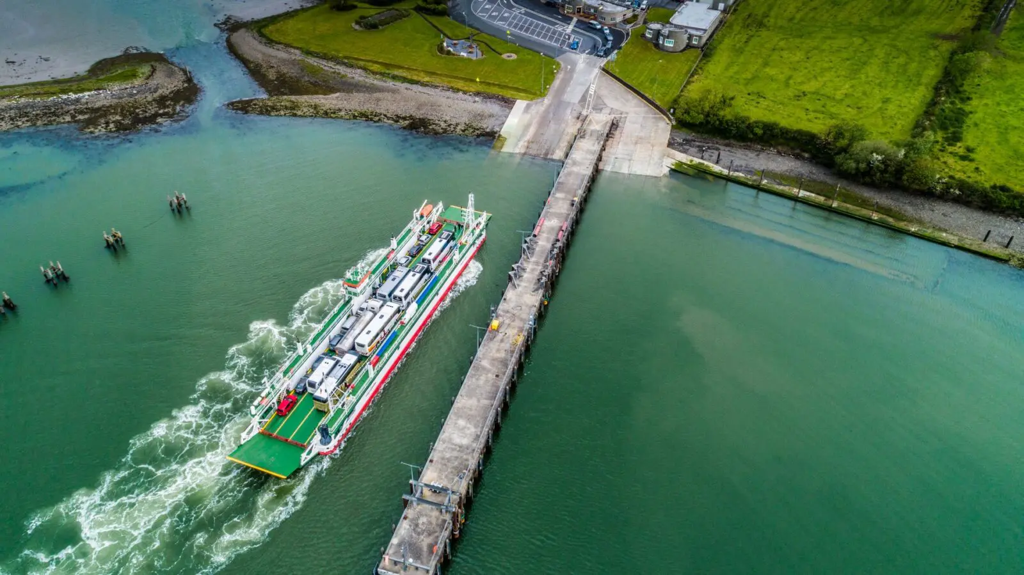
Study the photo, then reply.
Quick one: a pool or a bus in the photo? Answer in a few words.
bus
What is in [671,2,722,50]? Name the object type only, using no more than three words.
building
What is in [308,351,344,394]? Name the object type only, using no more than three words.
bus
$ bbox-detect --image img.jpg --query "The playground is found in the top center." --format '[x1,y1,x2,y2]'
[437,38,485,59]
